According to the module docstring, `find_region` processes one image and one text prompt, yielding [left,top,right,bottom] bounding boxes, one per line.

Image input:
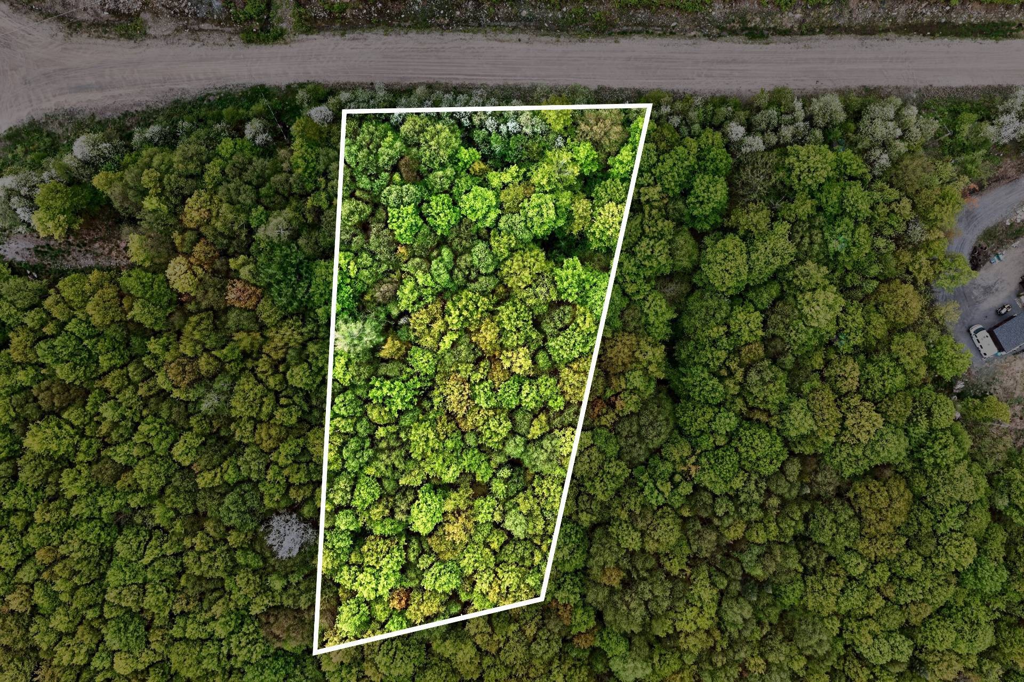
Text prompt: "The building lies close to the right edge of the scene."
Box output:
[984,307,1024,357]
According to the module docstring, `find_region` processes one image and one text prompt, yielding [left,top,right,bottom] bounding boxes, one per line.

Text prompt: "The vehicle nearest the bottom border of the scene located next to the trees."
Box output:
[968,323,997,361]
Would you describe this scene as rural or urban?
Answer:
rural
